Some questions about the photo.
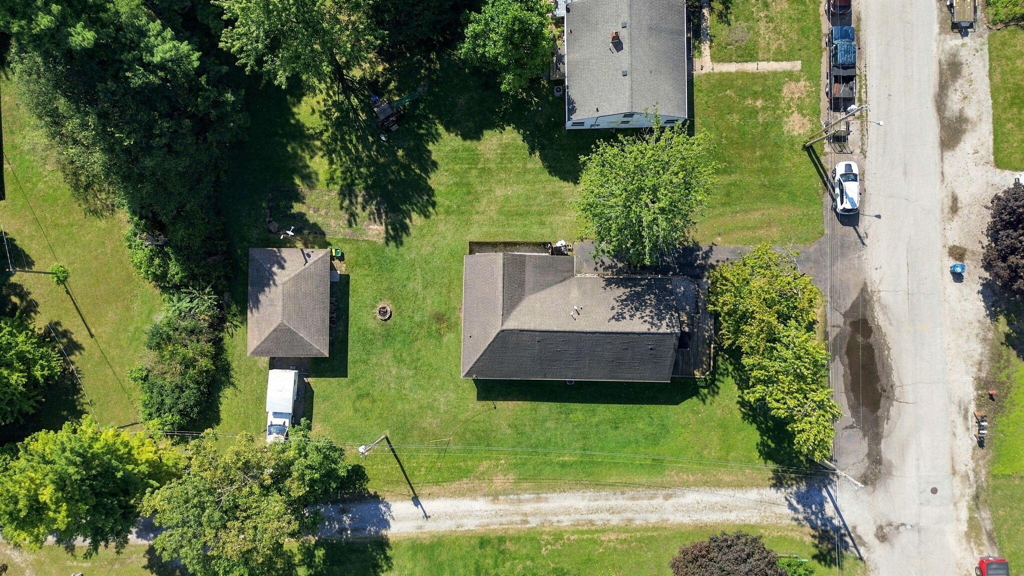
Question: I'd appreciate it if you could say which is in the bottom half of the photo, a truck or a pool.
truck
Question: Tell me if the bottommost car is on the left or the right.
right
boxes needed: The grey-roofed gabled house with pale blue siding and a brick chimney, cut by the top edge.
[564,0,688,130]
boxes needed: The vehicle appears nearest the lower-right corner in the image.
[972,554,1009,576]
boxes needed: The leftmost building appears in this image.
[247,247,333,358]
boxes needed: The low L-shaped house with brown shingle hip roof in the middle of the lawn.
[460,253,680,383]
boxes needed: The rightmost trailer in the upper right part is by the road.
[943,0,980,44]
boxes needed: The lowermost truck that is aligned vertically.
[268,368,306,447]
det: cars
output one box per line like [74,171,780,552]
[829,162,861,218]
[823,0,850,19]
[972,554,1009,576]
